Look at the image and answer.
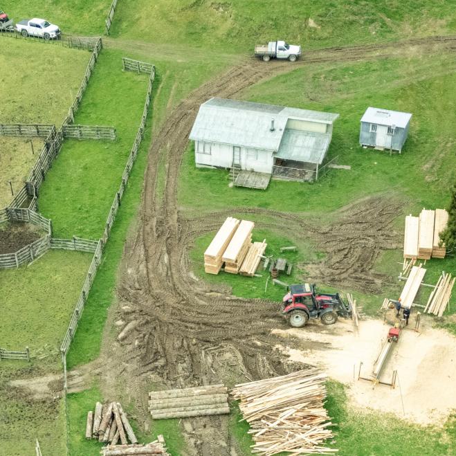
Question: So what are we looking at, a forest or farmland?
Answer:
farmland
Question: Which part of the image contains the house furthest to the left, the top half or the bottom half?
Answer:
top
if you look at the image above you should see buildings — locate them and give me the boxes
[362,105,408,150]
[189,97,333,185]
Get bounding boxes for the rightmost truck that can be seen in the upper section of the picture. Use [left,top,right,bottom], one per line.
[255,39,301,62]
